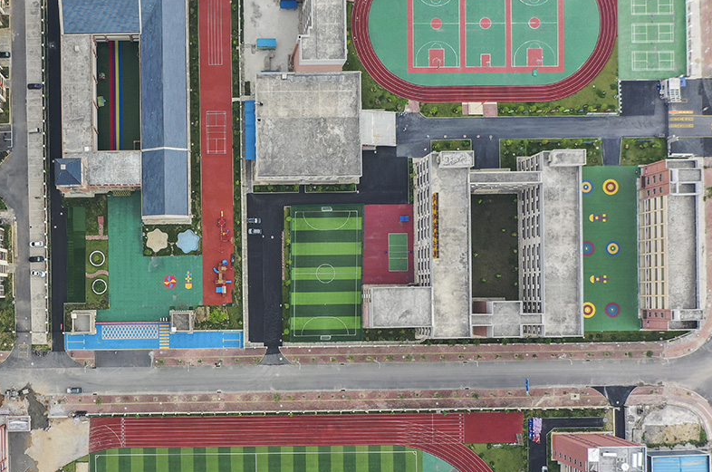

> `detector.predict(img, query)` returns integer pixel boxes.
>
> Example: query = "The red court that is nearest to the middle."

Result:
[363,205,417,285]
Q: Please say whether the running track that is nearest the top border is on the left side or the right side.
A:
right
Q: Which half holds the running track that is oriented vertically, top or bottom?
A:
top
